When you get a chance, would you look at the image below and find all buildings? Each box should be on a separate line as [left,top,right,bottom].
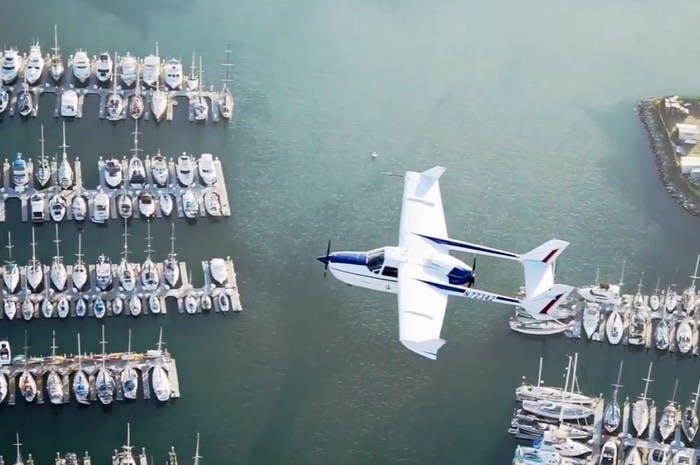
[677,120,700,143]
[681,155,700,174]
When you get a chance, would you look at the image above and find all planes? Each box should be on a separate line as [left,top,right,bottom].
[318,167,574,358]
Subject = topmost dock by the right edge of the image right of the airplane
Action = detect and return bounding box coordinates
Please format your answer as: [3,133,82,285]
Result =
[563,290,700,356]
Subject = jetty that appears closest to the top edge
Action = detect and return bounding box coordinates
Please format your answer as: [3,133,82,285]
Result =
[0,55,221,123]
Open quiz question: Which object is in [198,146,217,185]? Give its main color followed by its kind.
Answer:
white boat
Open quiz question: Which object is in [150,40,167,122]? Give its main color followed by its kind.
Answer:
white boat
